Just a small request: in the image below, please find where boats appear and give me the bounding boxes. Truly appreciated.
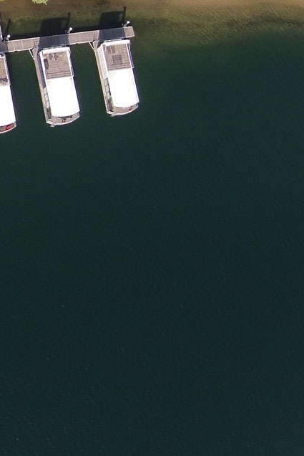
[0,53,16,135]
[93,40,140,118]
[33,46,79,128]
